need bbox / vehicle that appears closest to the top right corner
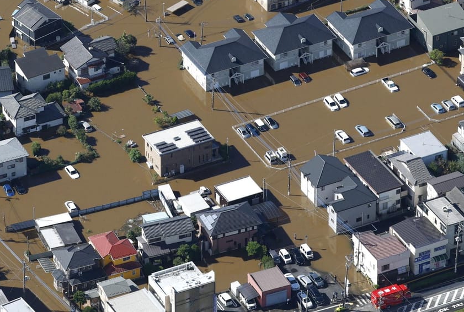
[421,67,437,80]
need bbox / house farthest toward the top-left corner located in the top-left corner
[14,4,61,44]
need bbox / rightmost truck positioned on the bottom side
[372,286,410,310]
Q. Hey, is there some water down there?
Yes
